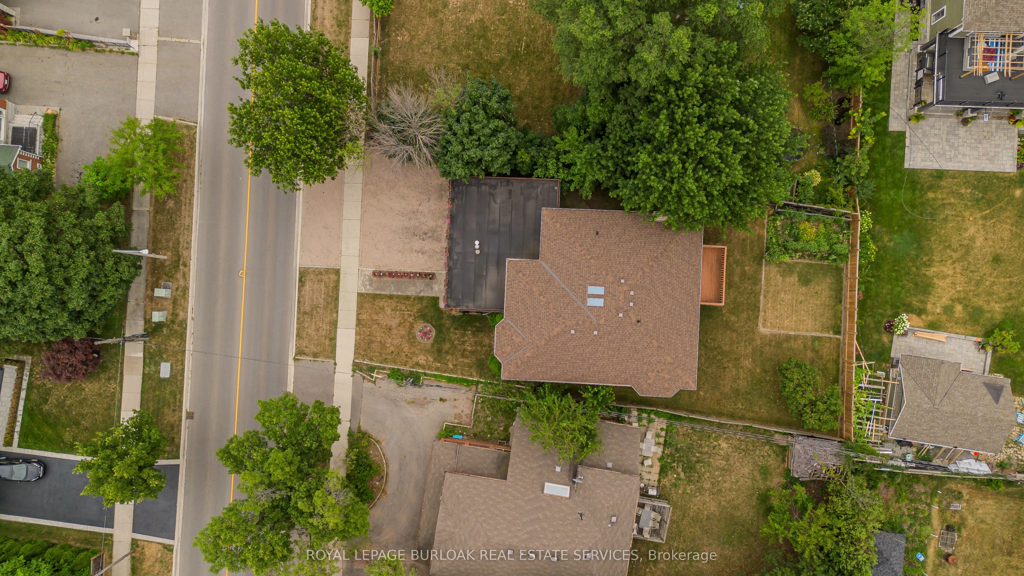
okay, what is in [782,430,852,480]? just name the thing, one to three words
shed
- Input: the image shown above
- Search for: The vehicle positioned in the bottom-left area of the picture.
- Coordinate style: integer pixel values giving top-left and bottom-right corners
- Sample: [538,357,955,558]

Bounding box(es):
[0,457,40,487]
